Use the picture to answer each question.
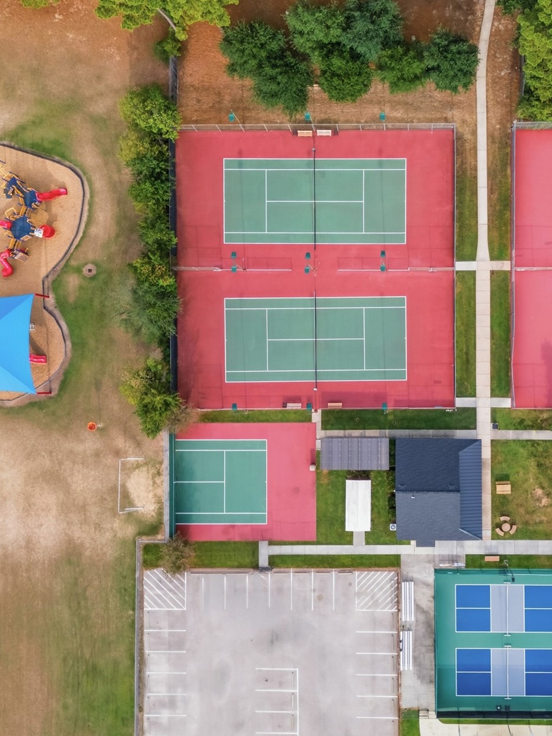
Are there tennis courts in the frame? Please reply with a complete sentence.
Yes, there's a tennis court here.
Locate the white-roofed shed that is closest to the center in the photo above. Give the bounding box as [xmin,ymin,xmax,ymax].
[345,480,372,531]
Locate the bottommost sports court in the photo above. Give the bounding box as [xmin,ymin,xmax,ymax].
[437,641,552,712]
